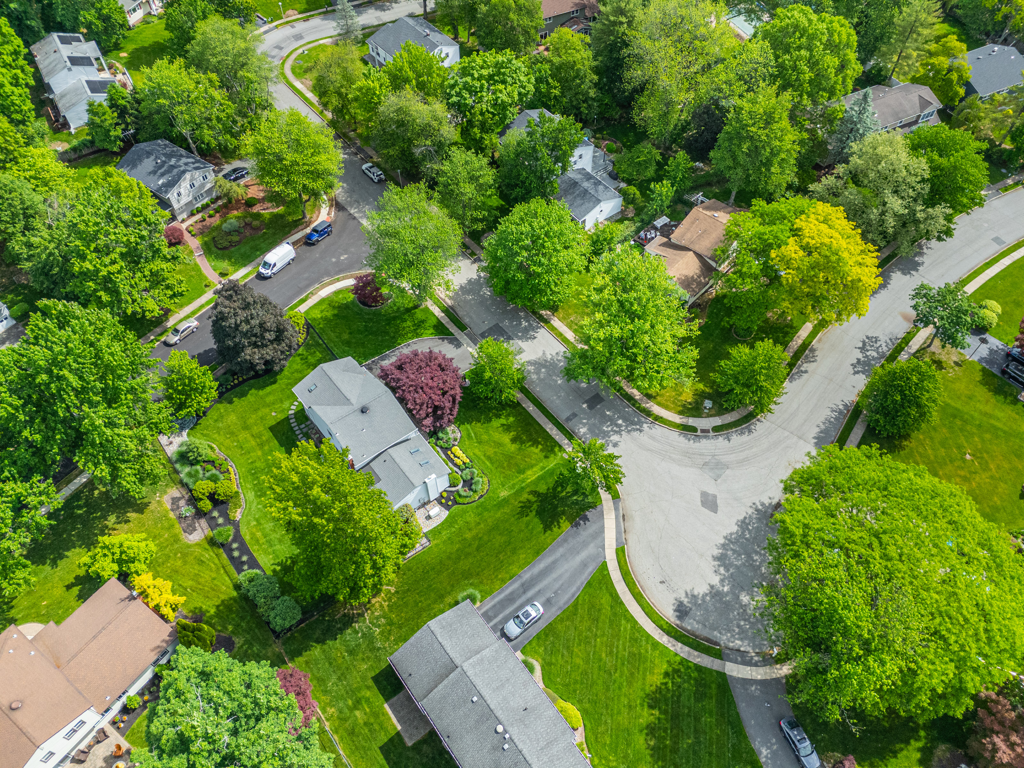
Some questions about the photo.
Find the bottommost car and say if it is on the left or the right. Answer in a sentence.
You can find the bottommost car on the right side of the picture.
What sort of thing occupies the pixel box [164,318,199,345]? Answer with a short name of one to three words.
car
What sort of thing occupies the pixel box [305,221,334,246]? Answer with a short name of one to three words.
car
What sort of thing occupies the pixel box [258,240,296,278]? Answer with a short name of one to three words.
van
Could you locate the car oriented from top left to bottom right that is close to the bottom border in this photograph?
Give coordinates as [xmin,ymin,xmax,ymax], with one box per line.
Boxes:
[780,718,822,768]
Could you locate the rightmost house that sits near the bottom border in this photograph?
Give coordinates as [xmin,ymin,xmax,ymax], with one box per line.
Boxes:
[386,599,605,768]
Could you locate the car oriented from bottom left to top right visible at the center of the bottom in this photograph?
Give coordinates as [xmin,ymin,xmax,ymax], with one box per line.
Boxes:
[502,602,545,642]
